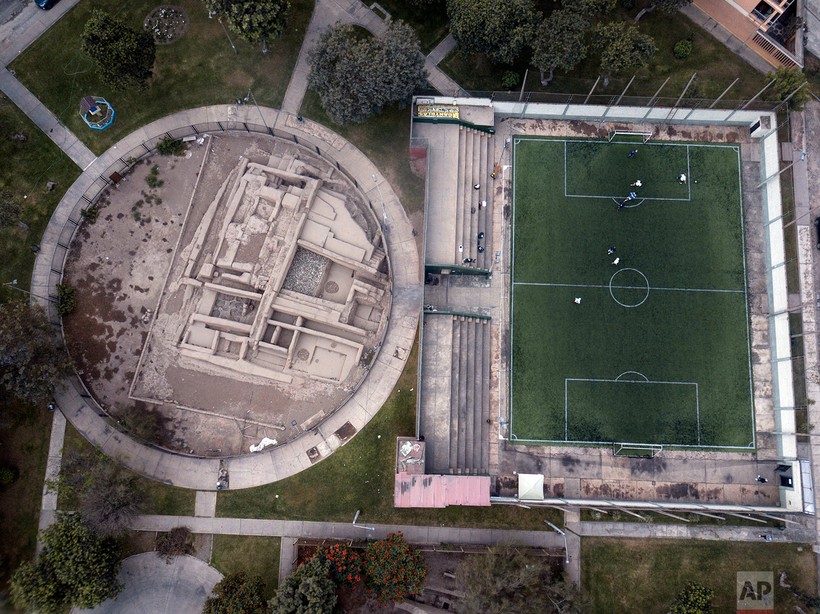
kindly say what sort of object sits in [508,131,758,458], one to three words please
soccer field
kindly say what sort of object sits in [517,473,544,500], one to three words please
tent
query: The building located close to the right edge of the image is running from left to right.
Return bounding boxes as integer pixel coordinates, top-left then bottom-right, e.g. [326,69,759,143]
[725,0,795,29]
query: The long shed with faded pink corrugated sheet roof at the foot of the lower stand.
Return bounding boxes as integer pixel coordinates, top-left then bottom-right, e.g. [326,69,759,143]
[394,472,492,508]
